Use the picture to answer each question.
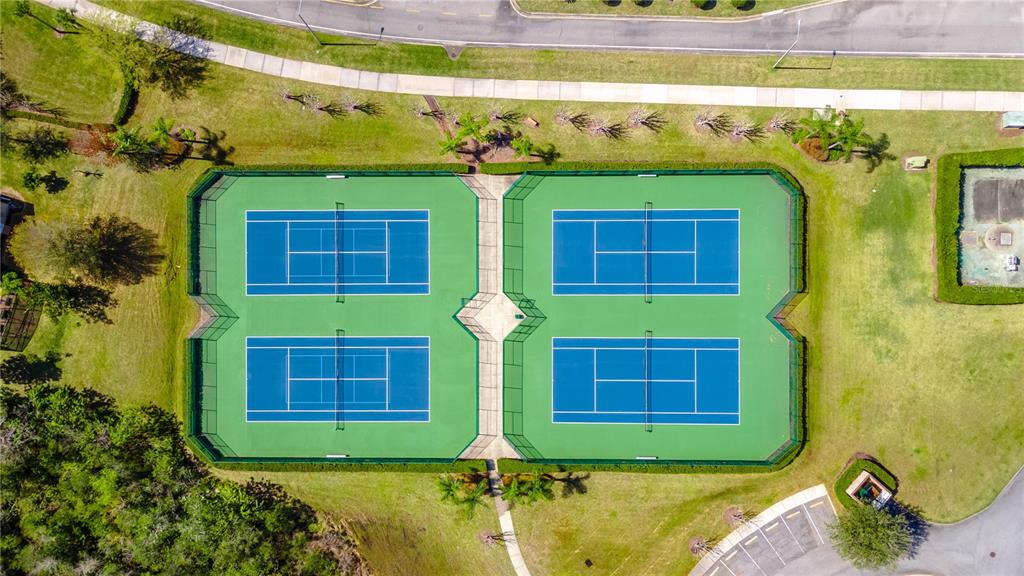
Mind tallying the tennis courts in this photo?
four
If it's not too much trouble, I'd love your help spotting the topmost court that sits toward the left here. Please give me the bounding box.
[206,175,477,316]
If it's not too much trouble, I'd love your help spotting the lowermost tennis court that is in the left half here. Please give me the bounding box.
[206,316,478,458]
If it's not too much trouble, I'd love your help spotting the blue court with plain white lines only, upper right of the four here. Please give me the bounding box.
[505,173,789,317]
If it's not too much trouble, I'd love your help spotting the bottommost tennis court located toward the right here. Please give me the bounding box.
[505,316,789,460]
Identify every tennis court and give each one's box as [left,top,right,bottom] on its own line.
[505,316,789,460]
[206,316,478,458]
[505,173,789,317]
[206,175,477,316]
